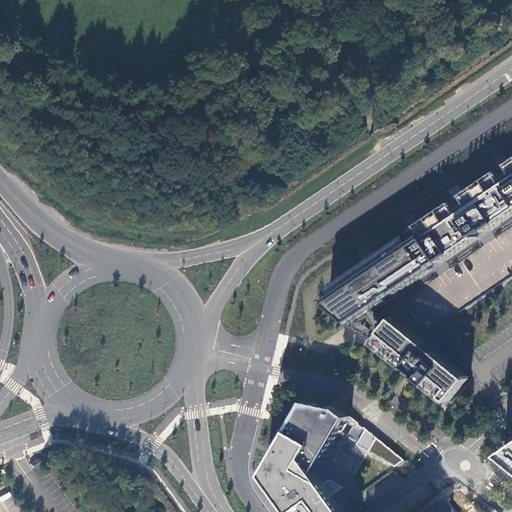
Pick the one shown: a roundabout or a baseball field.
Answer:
roundabout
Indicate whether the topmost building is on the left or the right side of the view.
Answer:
right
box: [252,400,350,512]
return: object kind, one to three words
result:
building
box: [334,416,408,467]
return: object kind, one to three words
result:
building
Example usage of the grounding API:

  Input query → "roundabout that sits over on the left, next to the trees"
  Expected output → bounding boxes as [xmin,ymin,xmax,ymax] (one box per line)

[30,254,202,428]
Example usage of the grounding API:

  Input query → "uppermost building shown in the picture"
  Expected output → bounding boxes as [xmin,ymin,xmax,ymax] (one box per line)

[318,158,512,321]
